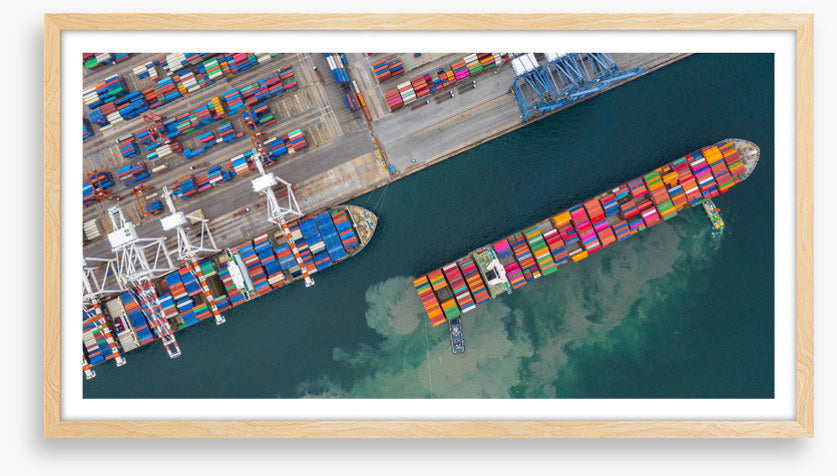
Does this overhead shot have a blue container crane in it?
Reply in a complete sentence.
Yes, a blue container crane is visible in the scene.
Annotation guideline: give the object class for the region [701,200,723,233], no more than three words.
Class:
boat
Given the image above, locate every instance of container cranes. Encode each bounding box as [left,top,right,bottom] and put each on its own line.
[157,186,228,321]
[248,148,314,285]
[143,112,177,147]
[504,53,574,123]
[535,53,611,103]
[100,205,178,360]
[251,134,280,168]
[132,186,166,218]
[83,251,133,364]
[566,53,649,89]
[239,104,270,140]
[87,169,122,200]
